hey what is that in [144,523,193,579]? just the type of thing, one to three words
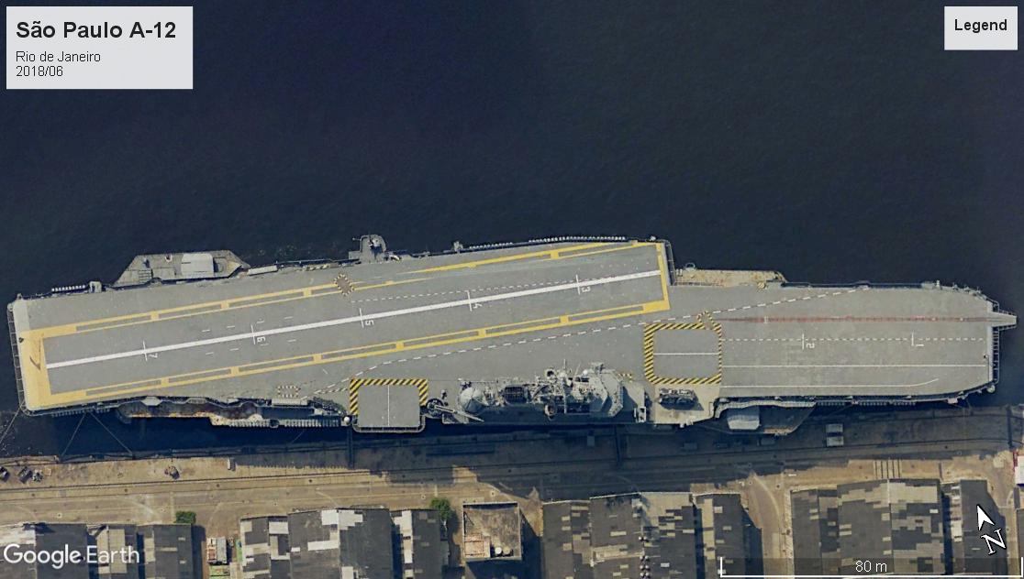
building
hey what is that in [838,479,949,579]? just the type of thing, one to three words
building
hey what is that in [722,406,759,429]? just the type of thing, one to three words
boat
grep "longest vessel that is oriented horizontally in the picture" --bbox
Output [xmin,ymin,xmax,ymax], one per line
[7,231,1017,436]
